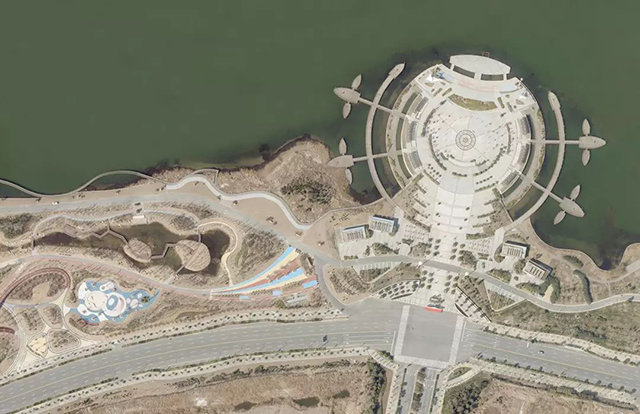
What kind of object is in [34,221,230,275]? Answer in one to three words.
pond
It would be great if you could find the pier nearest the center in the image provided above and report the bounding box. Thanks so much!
[328,138,388,184]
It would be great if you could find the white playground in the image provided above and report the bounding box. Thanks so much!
[69,281,160,323]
